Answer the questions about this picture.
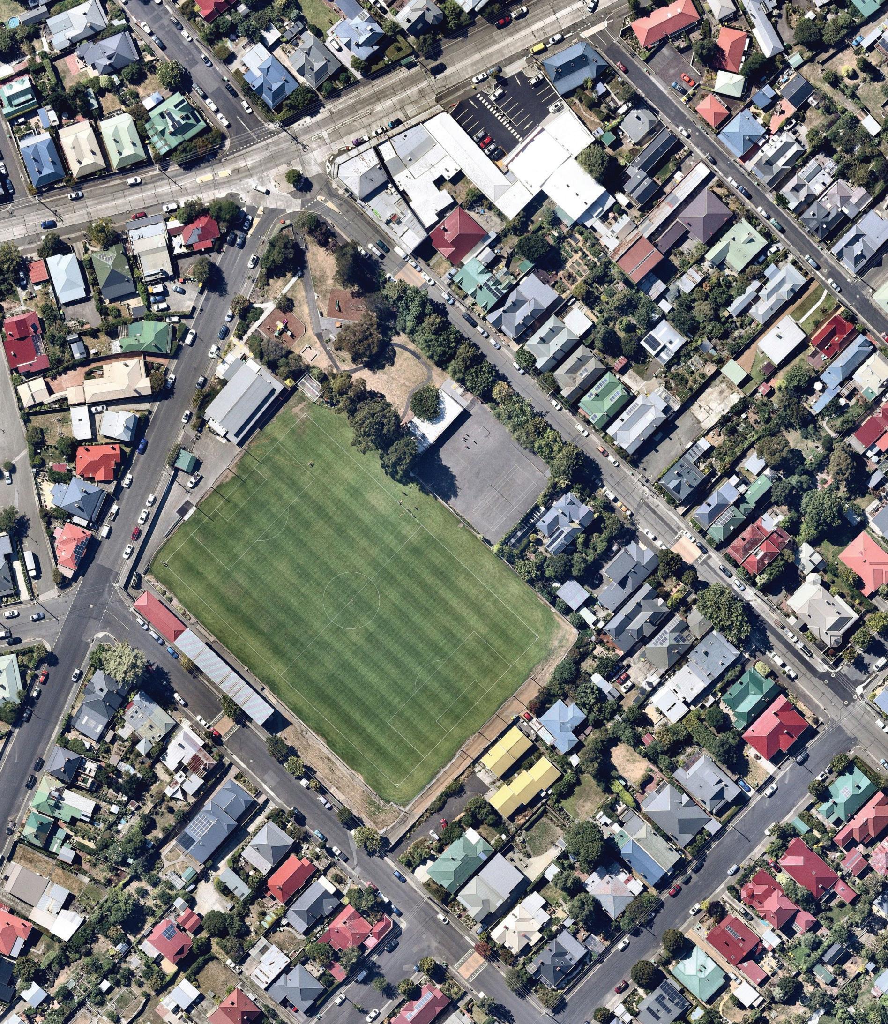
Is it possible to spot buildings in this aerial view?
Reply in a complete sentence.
Yes, the image includes a building.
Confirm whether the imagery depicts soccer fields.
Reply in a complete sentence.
Yes, the photo shows a soccer field.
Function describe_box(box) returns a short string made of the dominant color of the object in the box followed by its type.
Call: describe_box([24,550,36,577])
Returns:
white vehicle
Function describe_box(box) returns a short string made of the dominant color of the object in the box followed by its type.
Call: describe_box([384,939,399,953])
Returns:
black car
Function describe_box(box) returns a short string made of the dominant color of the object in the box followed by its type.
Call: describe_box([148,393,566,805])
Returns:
green soccer field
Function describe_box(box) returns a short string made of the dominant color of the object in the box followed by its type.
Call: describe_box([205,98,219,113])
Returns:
white car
